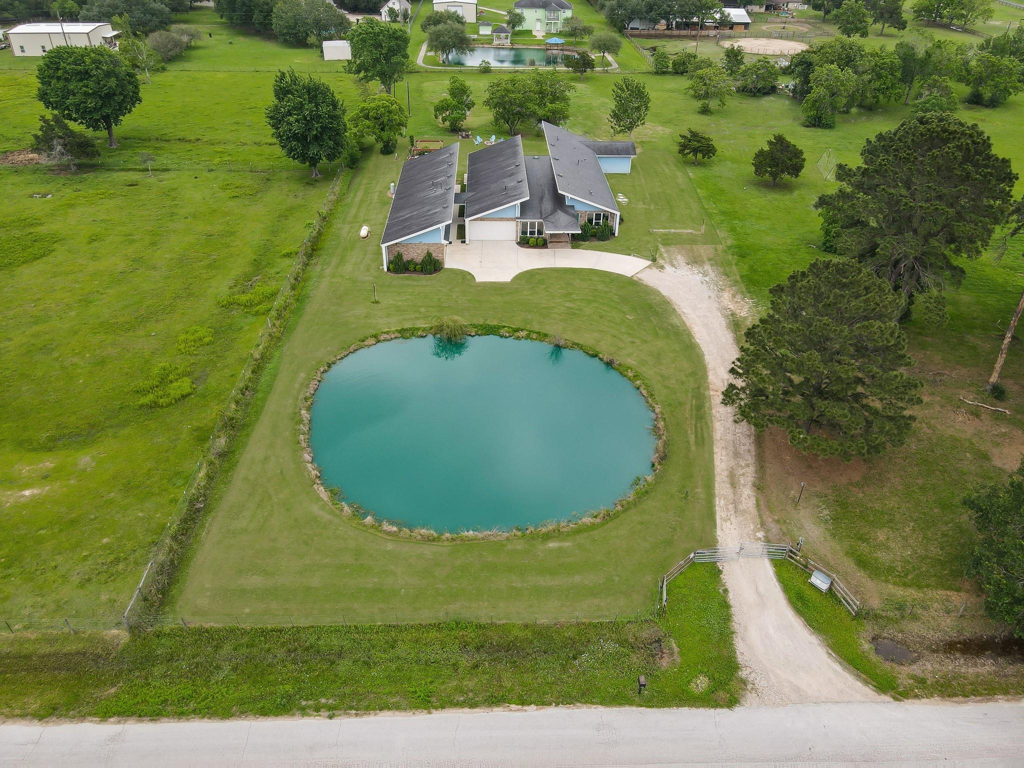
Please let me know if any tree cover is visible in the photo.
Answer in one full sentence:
Yes, some tree cover is visible.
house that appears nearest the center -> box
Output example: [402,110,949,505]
[380,121,637,268]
